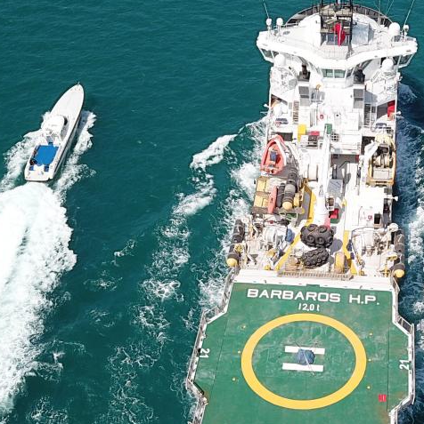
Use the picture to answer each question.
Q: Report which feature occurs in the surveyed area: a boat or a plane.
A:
boat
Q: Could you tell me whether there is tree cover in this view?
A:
No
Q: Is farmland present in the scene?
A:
No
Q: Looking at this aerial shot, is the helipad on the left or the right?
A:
right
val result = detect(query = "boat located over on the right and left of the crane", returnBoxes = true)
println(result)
[258,128,287,176]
